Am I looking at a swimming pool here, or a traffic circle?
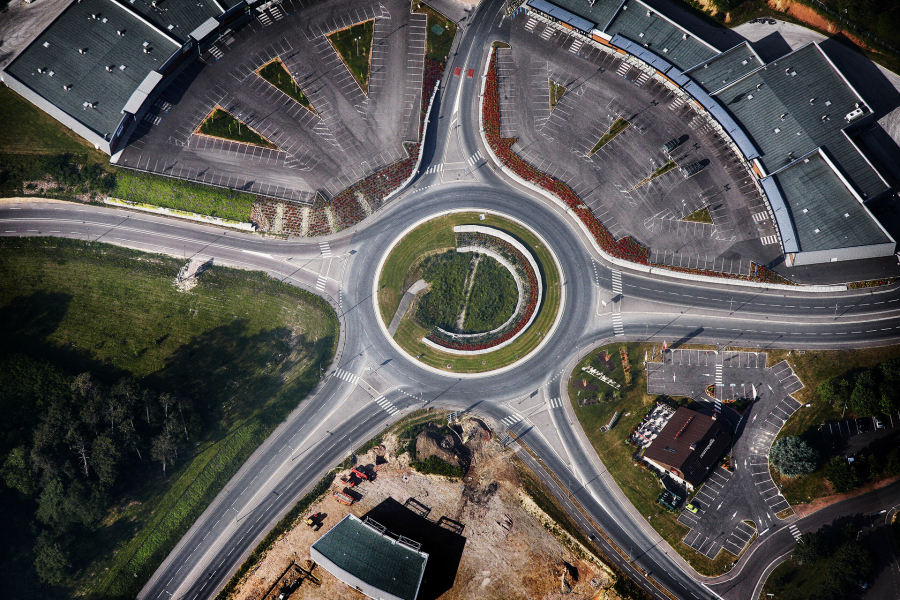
traffic circle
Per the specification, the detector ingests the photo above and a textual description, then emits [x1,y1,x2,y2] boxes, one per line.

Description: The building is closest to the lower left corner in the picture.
[310,514,428,600]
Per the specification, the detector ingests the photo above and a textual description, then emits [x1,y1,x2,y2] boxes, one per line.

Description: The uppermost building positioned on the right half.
[526,0,627,44]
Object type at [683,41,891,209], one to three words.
building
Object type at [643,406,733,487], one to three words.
building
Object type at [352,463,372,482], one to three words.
work vehicle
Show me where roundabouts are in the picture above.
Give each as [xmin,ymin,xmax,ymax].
[339,181,599,409]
